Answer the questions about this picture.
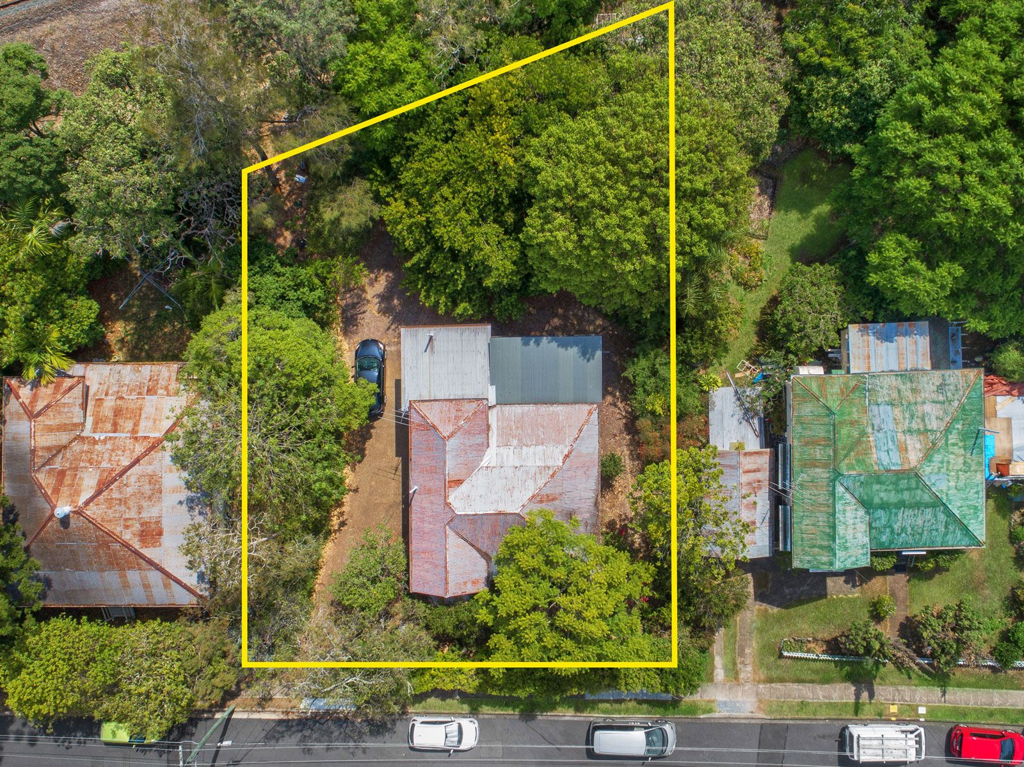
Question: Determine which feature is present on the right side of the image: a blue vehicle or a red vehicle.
red vehicle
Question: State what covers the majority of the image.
trees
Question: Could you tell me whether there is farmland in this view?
No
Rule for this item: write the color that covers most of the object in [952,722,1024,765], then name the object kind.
red car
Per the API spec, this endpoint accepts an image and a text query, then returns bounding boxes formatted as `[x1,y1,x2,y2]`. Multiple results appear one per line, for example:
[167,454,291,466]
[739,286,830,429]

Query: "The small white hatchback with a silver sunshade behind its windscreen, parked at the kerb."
[409,714,479,754]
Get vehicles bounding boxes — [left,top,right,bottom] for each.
[409,714,479,754]
[588,714,675,758]
[102,711,174,749]
[839,721,926,765]
[952,722,1024,765]
[351,339,389,419]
